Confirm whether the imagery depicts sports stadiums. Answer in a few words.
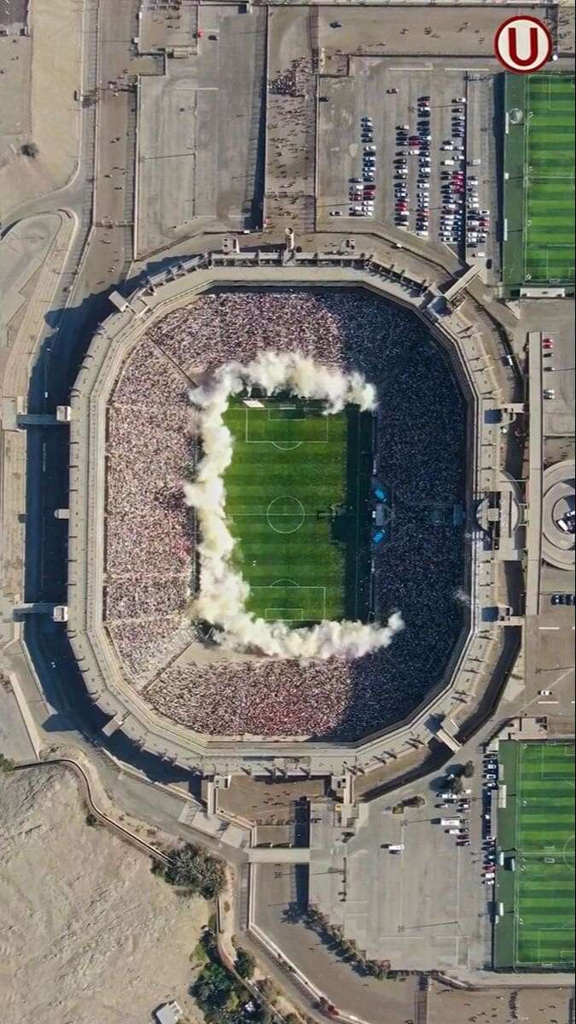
Yes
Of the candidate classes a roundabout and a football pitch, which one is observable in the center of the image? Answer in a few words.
football pitch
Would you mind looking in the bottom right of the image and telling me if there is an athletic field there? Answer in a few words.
Yes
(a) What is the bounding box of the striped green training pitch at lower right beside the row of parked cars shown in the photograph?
[495,740,576,970]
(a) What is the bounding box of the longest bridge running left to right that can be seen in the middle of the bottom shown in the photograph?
[247,847,312,862]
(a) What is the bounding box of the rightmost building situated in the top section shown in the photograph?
[519,287,565,299]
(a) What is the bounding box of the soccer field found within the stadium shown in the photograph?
[203,394,370,632]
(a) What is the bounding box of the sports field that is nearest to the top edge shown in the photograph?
[503,73,576,294]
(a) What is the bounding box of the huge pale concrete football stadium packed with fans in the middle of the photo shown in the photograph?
[53,237,528,791]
